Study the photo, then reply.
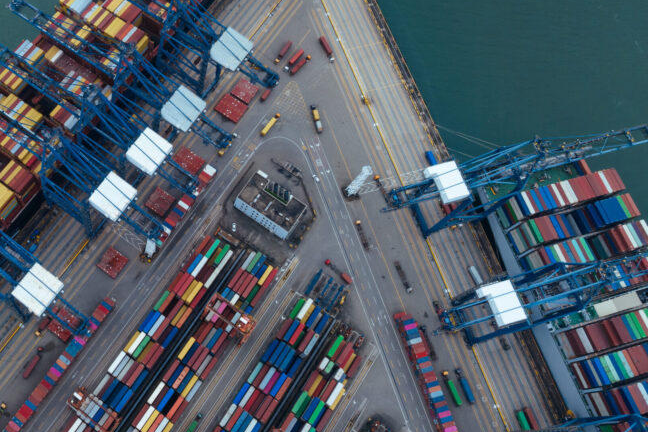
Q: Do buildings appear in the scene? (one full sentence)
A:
Yes, the frame does contain a building.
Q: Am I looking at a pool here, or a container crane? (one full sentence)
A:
Looking from above, you can make out a container crane.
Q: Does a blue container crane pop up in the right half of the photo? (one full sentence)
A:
Yes, you'll find a blue container crane in the right half of the photo.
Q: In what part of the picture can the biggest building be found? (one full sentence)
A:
The biggest building is located in the center region of the scene.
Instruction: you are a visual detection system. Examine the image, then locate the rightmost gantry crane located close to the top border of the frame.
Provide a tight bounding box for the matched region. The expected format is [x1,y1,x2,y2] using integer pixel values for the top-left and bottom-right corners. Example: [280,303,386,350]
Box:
[127,0,278,101]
